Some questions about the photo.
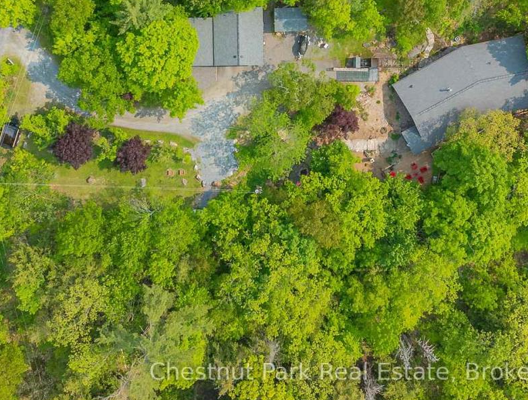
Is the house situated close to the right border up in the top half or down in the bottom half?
top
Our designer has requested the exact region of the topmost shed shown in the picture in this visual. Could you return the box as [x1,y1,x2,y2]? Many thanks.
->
[275,7,307,32]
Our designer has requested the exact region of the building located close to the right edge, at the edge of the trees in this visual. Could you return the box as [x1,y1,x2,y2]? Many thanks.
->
[393,34,528,154]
